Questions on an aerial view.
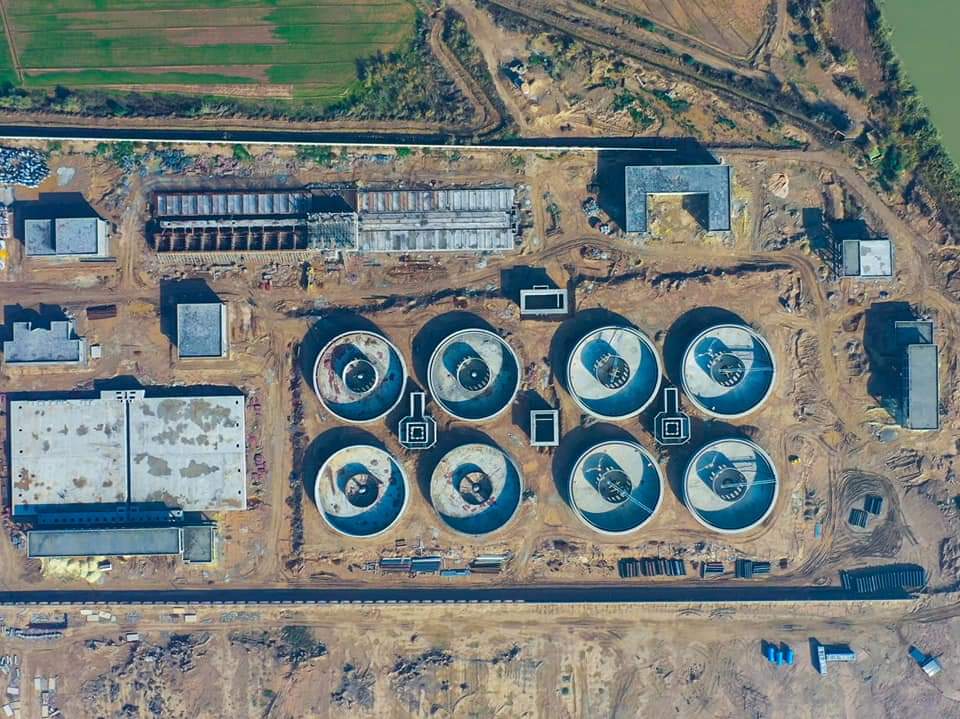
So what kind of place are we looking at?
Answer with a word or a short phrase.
industrial area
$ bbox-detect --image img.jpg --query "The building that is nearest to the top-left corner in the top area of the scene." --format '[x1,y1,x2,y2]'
[22,217,110,259]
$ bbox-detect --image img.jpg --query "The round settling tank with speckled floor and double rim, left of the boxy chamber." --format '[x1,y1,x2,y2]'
[428,328,520,421]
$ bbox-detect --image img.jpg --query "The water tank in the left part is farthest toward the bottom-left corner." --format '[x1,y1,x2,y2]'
[315,443,409,537]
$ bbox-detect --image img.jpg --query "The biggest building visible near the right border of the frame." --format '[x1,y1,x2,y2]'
[888,321,938,429]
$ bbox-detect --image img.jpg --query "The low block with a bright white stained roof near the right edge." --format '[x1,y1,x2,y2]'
[849,239,892,281]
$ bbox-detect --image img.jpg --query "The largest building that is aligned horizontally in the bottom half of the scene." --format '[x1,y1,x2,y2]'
[28,522,219,562]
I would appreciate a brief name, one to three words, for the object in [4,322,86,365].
building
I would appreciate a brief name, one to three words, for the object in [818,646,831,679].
building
